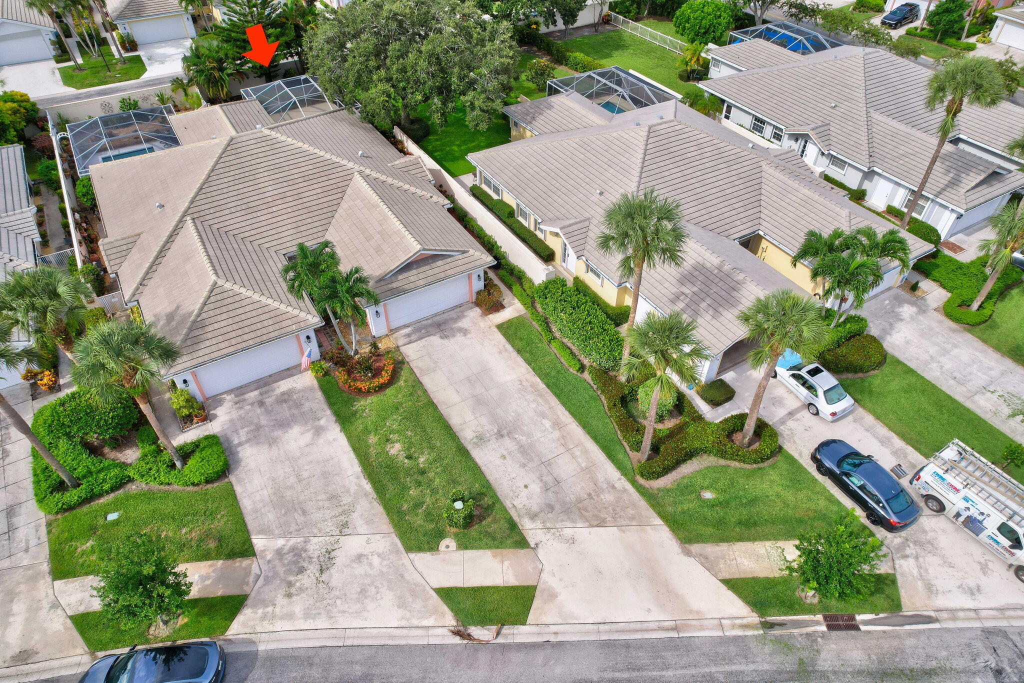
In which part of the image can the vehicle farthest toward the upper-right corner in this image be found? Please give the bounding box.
[884,3,921,27]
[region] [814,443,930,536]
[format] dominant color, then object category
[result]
blue car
